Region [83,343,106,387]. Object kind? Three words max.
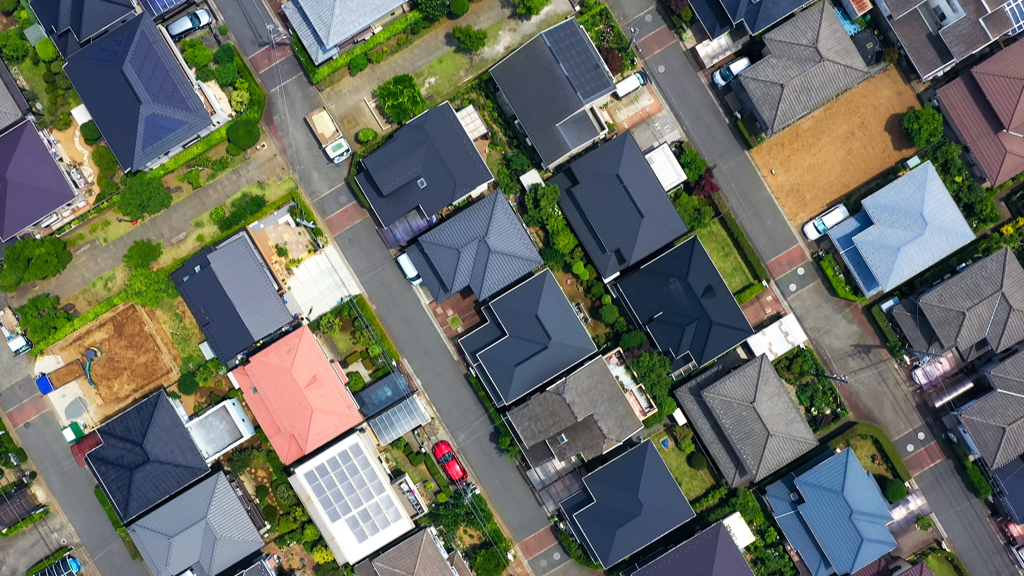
work vehicle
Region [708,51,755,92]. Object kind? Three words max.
car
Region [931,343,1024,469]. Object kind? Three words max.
house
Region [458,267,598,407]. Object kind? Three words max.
house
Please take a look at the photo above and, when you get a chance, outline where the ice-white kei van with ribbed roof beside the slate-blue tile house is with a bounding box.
[392,249,424,288]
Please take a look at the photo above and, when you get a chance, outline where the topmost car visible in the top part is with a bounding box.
[165,6,217,39]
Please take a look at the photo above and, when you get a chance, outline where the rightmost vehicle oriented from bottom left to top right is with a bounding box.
[799,200,854,244]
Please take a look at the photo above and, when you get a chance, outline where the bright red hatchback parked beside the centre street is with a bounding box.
[430,436,470,487]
